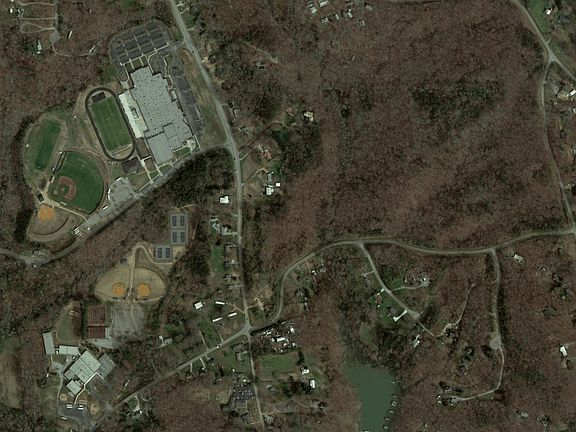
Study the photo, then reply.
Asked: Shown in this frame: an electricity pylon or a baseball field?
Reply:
baseball field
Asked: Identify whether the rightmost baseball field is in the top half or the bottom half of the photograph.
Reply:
bottom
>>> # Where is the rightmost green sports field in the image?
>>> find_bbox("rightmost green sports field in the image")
[89,96,130,151]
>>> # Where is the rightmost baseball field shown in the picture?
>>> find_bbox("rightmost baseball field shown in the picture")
[133,267,165,300]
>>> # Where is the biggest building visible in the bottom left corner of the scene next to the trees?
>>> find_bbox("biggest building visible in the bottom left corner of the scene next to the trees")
[59,345,115,395]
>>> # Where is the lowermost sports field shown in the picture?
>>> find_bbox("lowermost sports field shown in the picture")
[56,302,81,341]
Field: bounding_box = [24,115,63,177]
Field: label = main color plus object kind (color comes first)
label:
green sports field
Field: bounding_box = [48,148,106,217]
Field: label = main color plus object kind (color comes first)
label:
green baseball field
